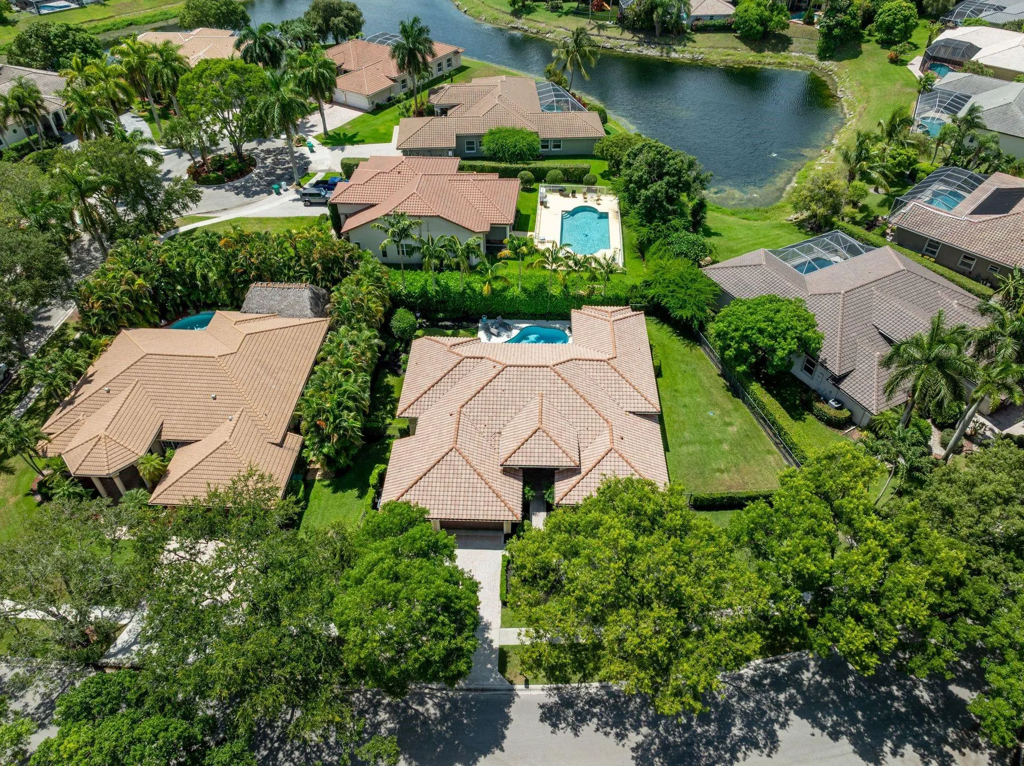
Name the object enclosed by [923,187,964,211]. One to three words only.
swimming pool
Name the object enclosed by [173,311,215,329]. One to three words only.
swimming pool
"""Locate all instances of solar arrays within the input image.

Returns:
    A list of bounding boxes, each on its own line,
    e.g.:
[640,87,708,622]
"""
[904,182,1024,221]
